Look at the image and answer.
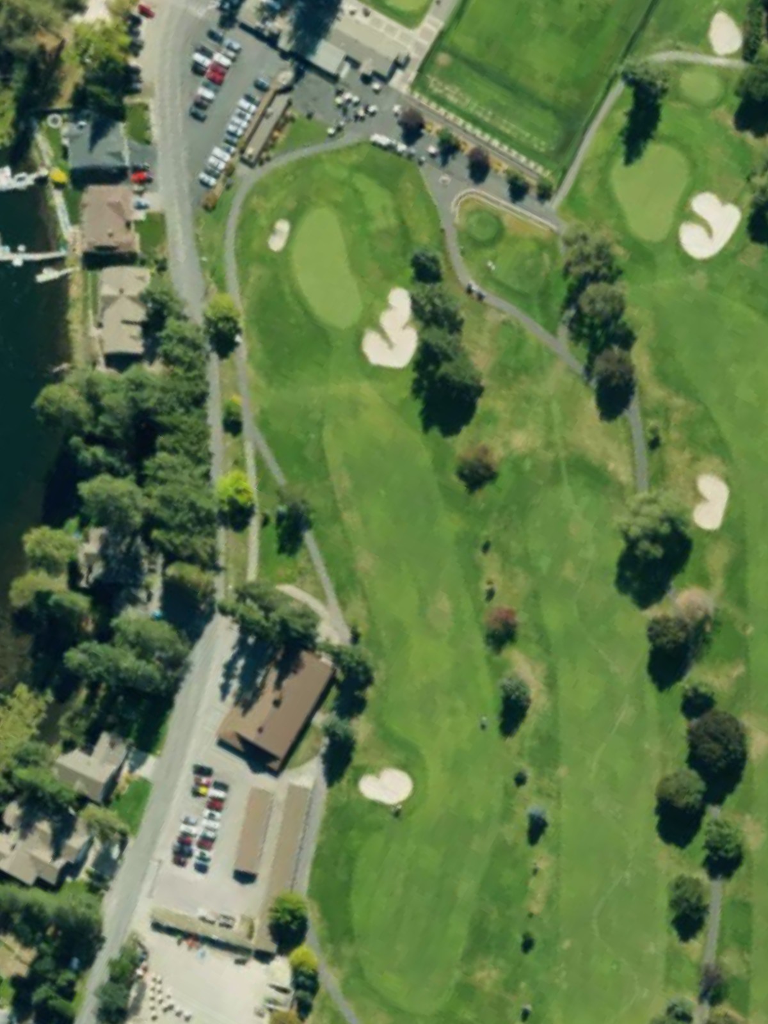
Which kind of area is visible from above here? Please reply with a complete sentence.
This looks like a golf course.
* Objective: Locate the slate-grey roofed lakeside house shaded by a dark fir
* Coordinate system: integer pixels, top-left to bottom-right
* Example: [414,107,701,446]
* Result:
[66,120,130,168]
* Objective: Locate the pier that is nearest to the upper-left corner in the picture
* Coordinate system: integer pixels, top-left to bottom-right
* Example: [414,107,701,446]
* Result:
[0,165,51,195]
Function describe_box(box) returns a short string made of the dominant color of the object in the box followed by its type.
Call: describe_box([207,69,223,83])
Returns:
red car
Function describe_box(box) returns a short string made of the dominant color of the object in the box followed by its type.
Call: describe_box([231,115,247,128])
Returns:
white vehicle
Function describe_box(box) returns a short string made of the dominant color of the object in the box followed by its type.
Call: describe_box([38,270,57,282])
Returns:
white boat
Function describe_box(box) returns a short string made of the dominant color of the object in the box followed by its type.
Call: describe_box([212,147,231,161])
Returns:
white vehicle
